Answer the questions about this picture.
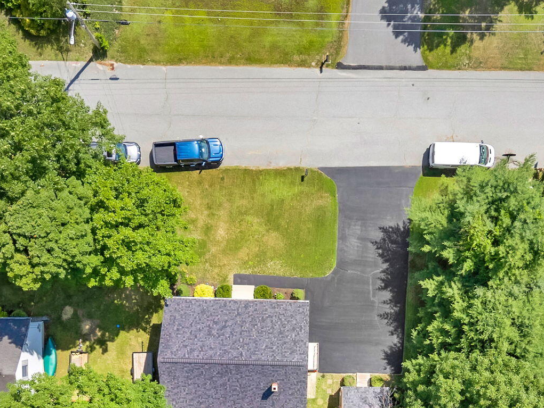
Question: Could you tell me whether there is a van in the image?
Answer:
Yes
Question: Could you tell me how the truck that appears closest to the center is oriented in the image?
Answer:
from side to side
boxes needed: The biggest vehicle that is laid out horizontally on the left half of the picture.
[154,137,225,170]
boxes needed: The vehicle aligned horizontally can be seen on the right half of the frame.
[429,141,493,172]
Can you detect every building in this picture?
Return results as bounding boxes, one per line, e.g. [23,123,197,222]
[0,316,51,405]
[158,296,309,408]
[341,387,393,408]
